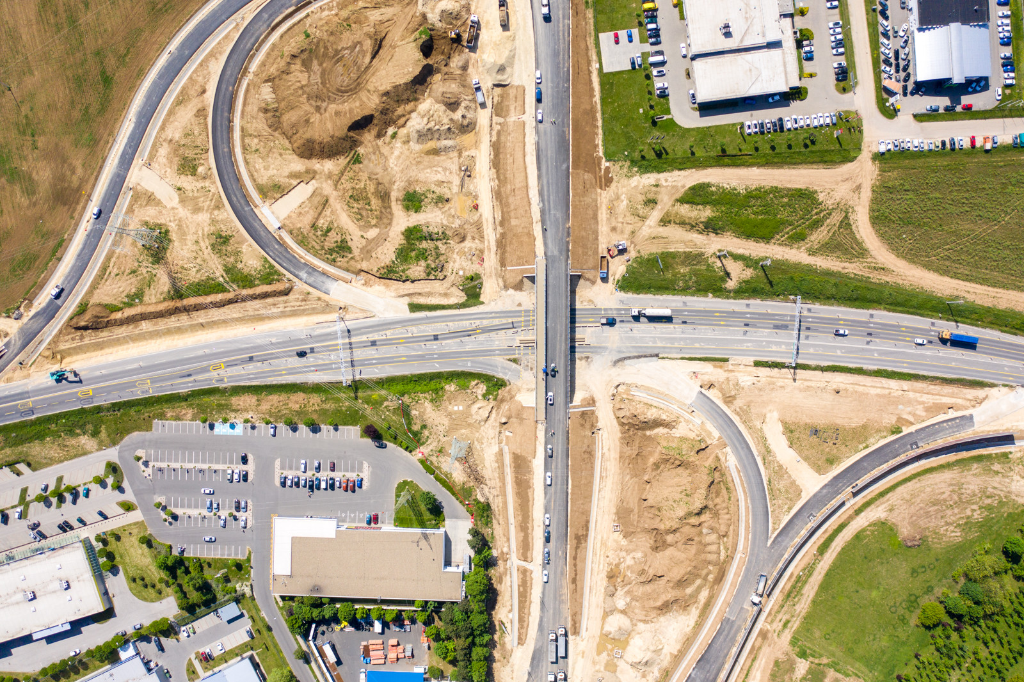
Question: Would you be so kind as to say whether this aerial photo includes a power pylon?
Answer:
Yes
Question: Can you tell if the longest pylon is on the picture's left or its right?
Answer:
left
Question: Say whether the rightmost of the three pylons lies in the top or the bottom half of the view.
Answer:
bottom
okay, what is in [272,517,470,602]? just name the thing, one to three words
building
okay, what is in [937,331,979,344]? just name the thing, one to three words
vehicle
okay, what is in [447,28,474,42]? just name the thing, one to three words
work vehicle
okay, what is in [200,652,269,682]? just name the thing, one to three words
building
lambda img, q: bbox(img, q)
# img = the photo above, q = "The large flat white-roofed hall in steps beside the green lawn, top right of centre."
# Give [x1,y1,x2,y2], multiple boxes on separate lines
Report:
[681,0,799,107]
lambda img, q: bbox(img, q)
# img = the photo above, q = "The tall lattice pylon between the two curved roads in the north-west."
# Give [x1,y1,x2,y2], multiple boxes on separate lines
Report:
[100,210,160,249]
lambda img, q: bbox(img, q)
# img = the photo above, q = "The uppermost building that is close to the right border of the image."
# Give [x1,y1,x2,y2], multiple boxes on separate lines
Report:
[903,0,991,85]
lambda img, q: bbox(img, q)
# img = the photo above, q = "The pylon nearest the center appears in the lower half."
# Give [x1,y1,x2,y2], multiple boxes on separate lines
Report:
[447,435,471,473]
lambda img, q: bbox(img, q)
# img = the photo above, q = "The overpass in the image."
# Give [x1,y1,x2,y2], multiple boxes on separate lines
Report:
[523,258,581,428]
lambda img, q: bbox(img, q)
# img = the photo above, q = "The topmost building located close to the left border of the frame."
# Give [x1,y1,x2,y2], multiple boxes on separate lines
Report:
[0,532,117,639]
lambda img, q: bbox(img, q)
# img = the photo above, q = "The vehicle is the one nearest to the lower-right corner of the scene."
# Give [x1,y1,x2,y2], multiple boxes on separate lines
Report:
[751,575,768,604]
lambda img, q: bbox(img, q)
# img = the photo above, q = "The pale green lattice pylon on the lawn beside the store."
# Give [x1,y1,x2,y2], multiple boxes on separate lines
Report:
[388,484,417,511]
